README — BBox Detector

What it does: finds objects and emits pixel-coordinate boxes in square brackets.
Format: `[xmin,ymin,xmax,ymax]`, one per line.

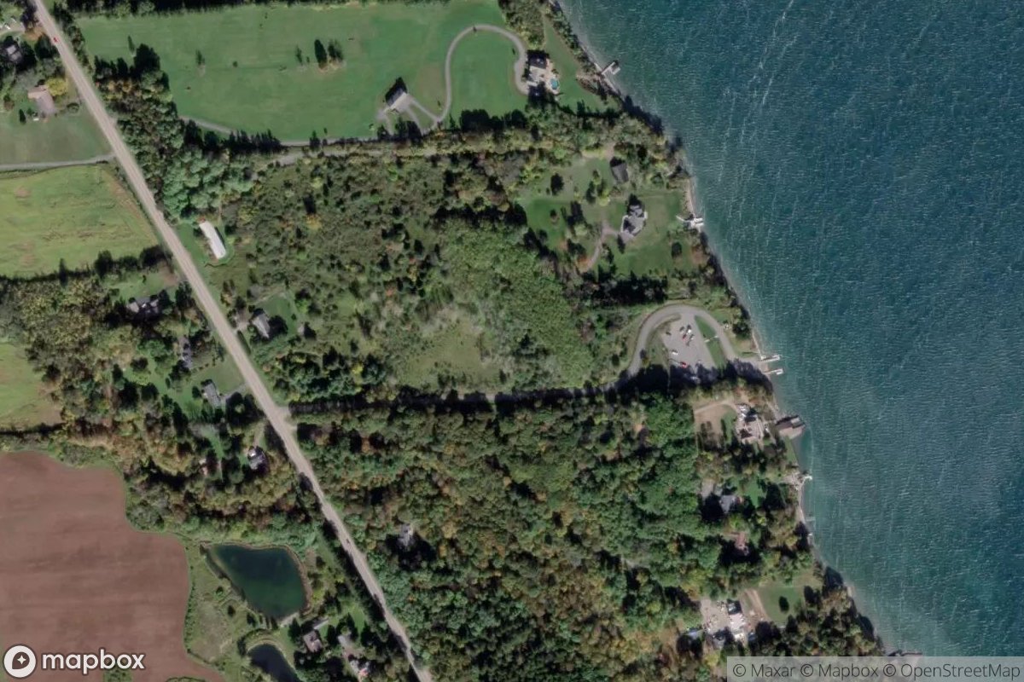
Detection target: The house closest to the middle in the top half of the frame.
[622,206,648,242]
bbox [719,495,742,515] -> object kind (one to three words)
house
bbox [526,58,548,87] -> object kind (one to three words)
house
